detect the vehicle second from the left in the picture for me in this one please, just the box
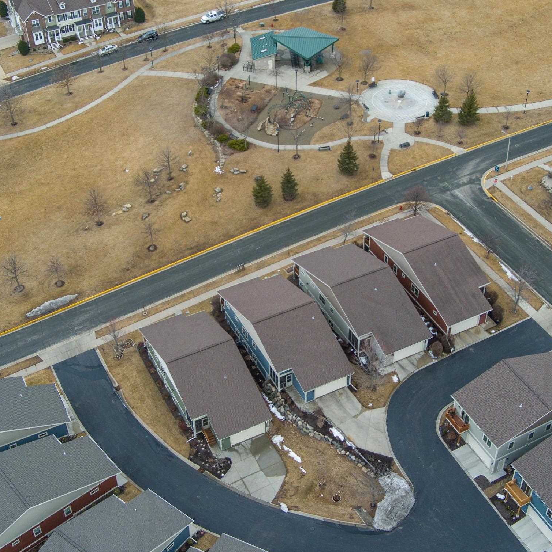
[137,27,159,41]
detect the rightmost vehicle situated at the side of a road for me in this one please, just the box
[200,9,227,23]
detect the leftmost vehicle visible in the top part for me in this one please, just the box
[96,41,120,54]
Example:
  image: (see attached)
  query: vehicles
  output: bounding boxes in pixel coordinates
[200,9,227,23]
[137,27,159,41]
[96,41,120,54]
